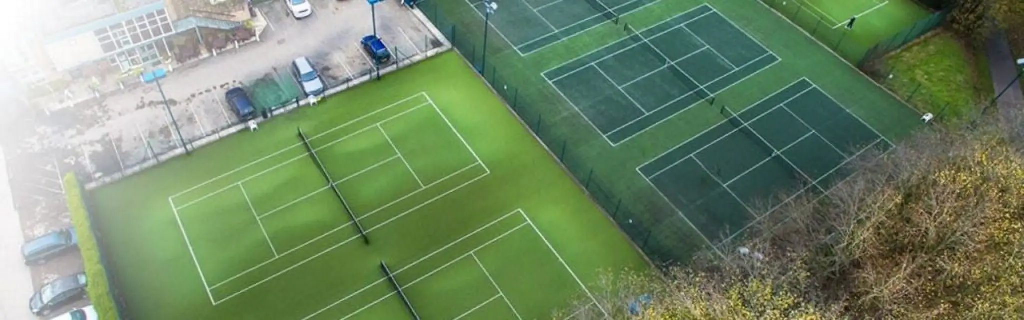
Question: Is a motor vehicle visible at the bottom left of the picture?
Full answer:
Yes, I can see a motor vehicle at the bottom left of the picture.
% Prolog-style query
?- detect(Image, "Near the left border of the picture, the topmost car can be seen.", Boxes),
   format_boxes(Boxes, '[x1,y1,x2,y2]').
[8,226,78,271]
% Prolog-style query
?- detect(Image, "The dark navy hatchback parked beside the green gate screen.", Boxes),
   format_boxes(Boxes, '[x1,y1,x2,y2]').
[223,83,256,119]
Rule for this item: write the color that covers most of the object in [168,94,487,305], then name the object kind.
green tennis court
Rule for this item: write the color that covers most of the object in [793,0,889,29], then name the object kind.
green tennis court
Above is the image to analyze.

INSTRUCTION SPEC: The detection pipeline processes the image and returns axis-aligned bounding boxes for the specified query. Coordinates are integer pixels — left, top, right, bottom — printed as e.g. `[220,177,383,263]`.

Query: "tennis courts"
[543,3,781,146]
[469,0,663,56]
[793,0,889,29]
[308,209,606,320]
[637,77,896,260]
[168,94,487,305]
